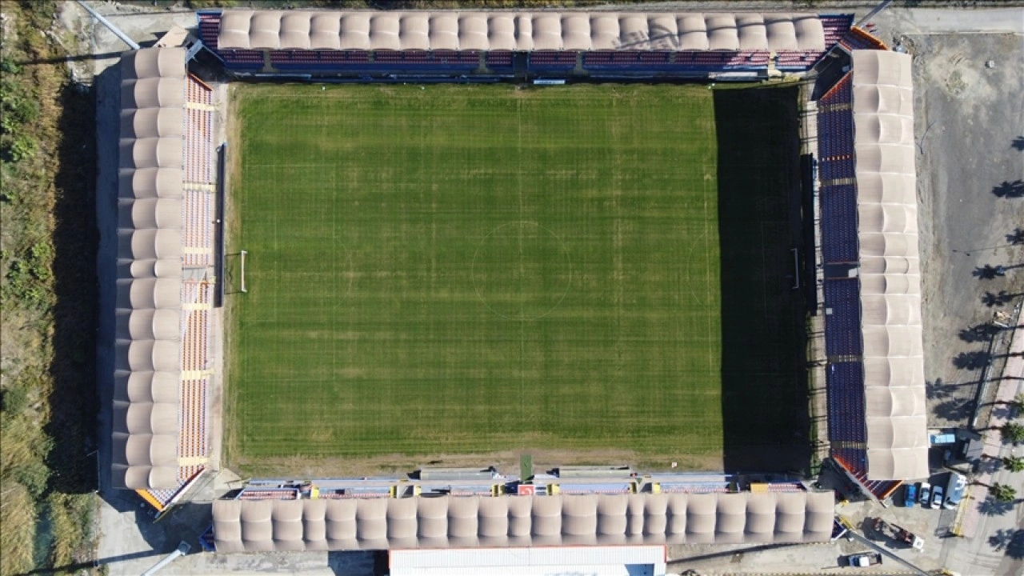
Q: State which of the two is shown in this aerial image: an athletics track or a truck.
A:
truck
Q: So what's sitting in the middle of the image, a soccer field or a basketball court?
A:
soccer field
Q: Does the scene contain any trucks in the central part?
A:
No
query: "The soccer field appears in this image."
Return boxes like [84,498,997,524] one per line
[225,81,813,479]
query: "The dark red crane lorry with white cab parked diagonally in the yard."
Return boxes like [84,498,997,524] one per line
[877,518,930,555]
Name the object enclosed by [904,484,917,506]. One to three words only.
vehicle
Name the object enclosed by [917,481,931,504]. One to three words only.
car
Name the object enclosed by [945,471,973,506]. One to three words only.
van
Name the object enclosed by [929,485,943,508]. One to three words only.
car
